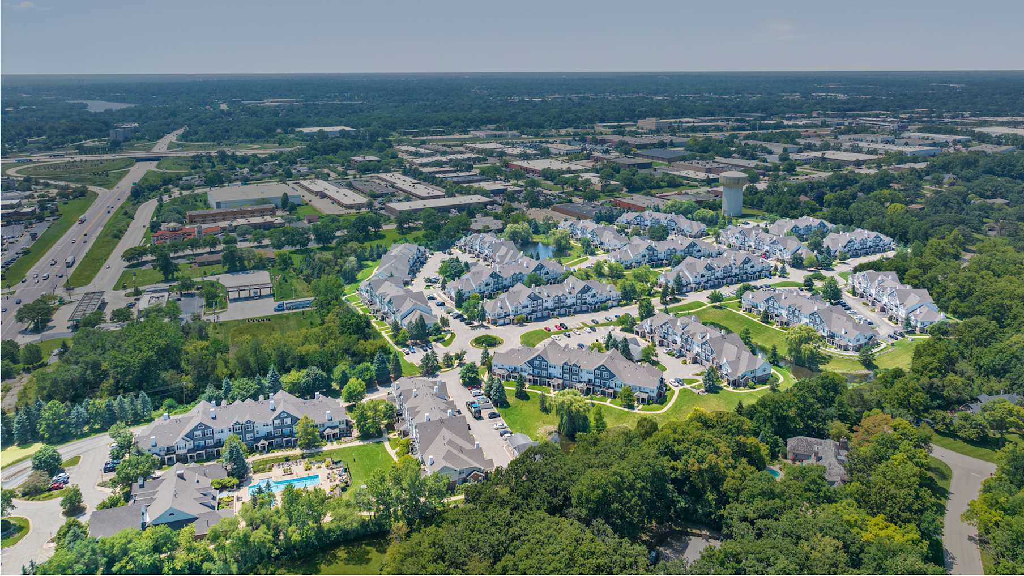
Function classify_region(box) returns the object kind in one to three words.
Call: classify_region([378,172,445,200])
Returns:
building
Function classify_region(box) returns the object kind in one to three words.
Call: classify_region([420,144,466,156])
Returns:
building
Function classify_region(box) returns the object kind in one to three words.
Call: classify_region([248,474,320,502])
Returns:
swimming pool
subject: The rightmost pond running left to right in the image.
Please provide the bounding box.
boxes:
[753,350,881,390]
